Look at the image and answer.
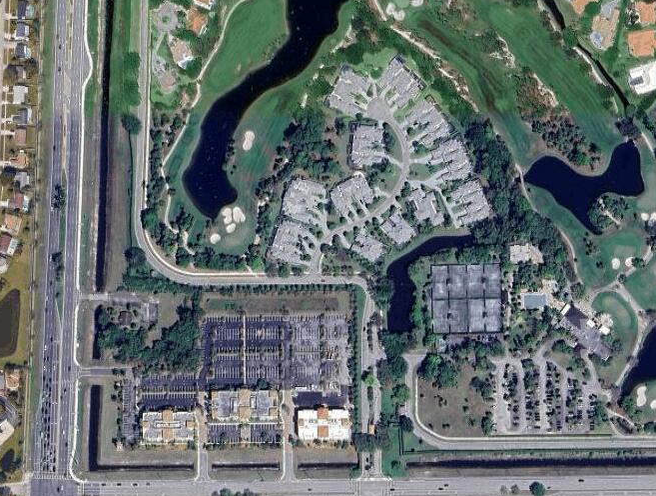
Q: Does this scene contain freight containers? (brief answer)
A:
No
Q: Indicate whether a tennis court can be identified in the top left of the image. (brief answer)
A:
No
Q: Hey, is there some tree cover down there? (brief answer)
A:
Yes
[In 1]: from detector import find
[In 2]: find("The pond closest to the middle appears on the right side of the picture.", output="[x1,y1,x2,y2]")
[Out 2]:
[389,233,473,332]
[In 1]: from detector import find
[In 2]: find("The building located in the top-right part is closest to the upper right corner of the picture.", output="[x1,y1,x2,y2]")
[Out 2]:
[635,0,656,23]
